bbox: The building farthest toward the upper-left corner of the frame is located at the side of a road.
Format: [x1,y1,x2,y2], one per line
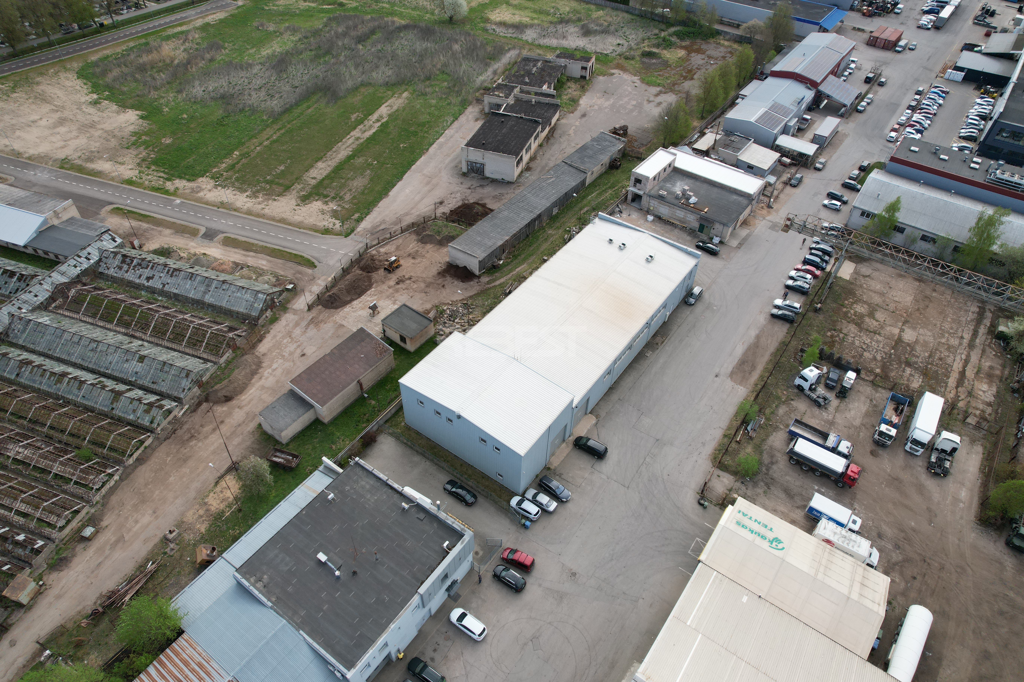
[0,181,79,265]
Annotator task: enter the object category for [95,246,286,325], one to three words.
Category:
greenhouse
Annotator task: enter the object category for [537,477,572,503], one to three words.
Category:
car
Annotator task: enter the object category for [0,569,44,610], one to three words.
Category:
building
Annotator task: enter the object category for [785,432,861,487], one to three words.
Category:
truck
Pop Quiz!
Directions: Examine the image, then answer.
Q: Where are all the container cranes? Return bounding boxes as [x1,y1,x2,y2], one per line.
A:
[778,208,1024,321]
